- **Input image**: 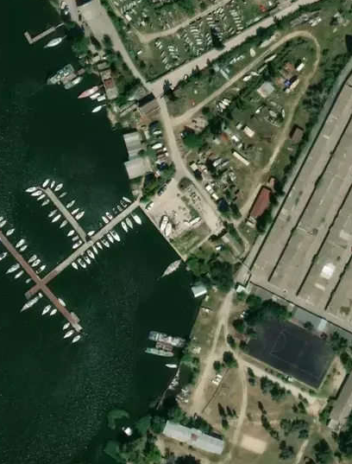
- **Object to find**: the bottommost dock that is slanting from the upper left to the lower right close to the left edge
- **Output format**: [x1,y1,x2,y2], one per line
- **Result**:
[0,232,84,335]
